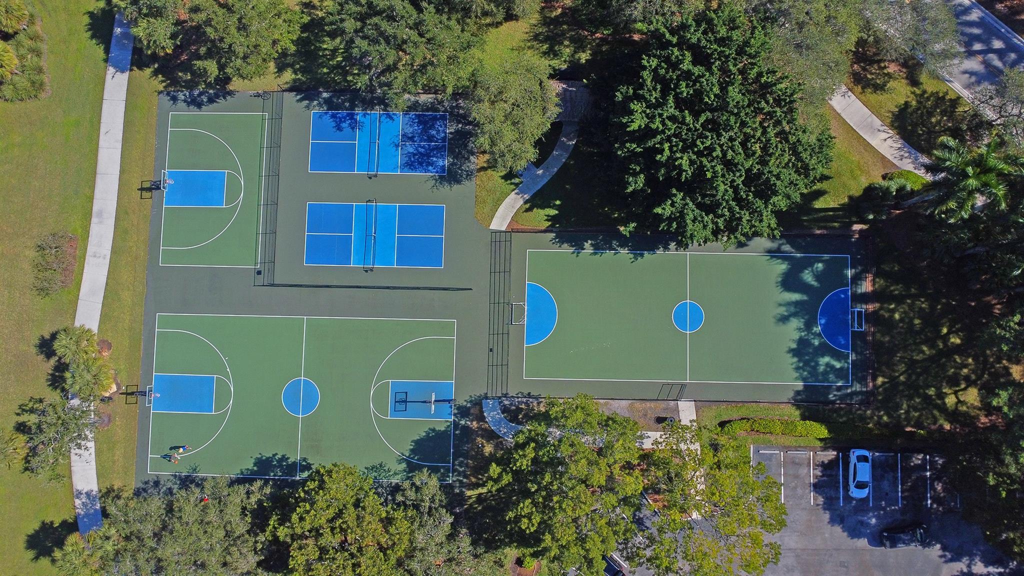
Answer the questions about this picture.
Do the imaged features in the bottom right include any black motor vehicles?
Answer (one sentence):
Yes, a black motor vehicle appears in the bottom right.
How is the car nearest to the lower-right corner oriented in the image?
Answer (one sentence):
From this overhead view, the car nearest to the lower-right corner appears to run from side to side.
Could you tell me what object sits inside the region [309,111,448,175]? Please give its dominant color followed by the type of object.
blue sports court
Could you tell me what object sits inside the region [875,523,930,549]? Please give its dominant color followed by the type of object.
black car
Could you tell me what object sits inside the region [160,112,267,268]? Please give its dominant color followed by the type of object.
green basketball court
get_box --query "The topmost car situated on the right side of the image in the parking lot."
[846,448,873,499]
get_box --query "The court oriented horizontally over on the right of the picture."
[525,249,852,385]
